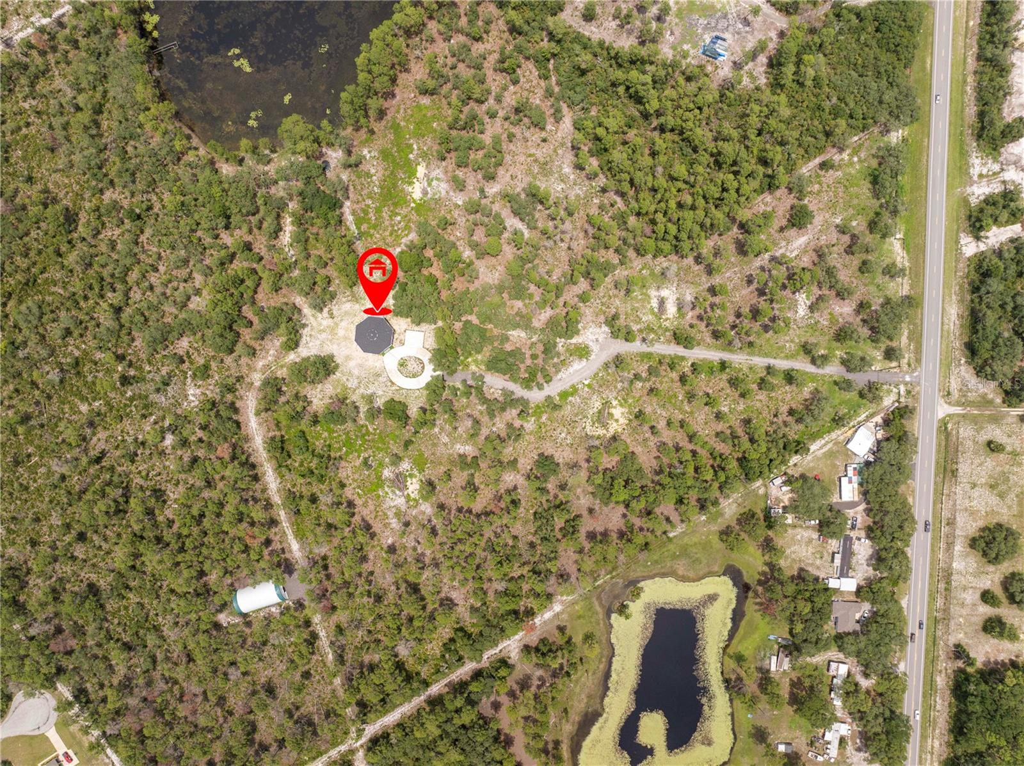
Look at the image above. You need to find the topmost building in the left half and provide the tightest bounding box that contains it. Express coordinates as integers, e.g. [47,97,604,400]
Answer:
[355,316,394,354]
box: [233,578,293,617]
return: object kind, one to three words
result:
barn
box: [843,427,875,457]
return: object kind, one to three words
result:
building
